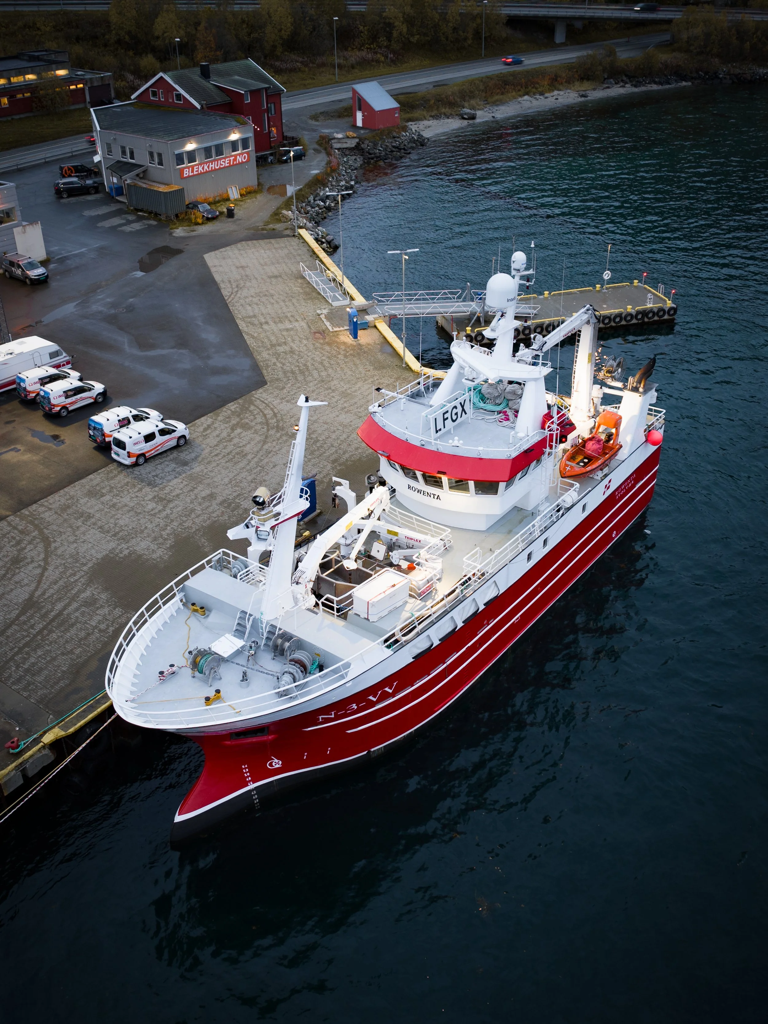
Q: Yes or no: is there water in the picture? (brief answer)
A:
Yes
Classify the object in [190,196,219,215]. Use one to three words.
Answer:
car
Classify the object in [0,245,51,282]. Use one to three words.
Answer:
van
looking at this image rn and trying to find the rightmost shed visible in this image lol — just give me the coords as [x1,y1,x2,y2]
[354,80,400,130]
